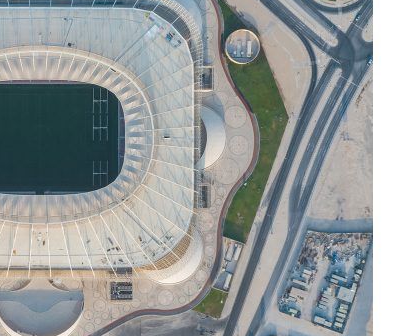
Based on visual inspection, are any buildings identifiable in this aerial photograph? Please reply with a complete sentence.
Yes, the image includes a building.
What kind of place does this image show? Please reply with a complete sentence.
The picture captures a sports ground.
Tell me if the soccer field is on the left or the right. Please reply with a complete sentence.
You can find the soccer field on the left side of the picture.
